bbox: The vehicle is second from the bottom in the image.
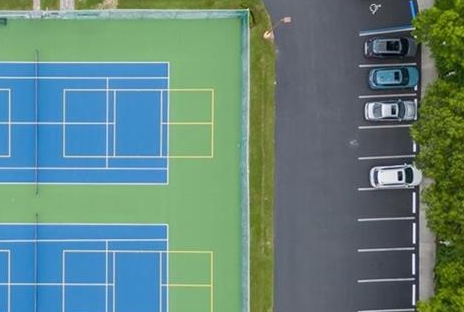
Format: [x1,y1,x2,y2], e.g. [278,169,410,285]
[366,97,420,121]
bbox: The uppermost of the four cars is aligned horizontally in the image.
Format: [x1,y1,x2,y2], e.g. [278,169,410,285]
[366,33,420,58]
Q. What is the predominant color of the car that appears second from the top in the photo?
blue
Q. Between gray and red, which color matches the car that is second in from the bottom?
gray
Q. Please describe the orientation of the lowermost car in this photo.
from left to right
